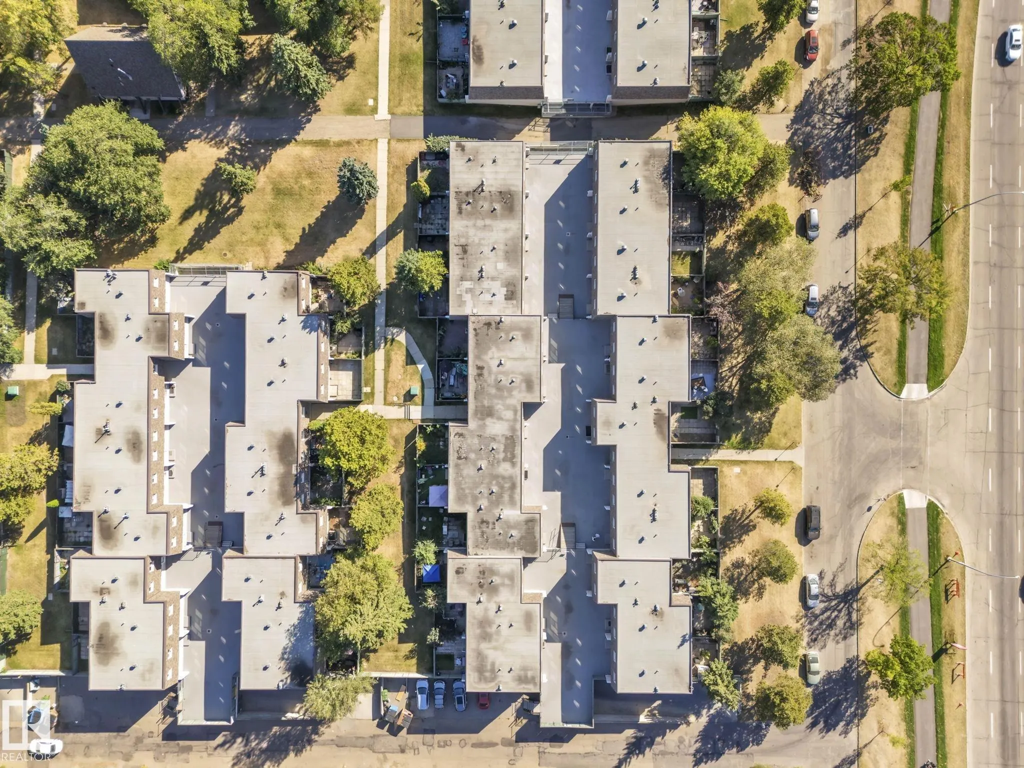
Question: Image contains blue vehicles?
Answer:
Yes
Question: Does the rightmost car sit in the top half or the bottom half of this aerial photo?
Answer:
top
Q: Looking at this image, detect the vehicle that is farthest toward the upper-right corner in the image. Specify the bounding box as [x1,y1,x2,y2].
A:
[1003,26,1024,63]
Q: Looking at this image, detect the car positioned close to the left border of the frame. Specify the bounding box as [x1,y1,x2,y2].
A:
[30,737,65,755]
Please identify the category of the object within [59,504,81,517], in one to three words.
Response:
gazebo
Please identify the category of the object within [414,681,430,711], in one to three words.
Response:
car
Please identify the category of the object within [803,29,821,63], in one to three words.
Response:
car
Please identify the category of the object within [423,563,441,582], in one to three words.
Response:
gazebo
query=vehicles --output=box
[414,681,430,711]
[804,0,821,27]
[452,681,468,712]
[803,29,821,63]
[804,284,821,316]
[804,574,821,607]
[1003,26,1024,63]
[804,505,823,539]
[804,208,822,242]
[477,693,490,711]
[431,681,446,708]
[30,737,65,755]
[804,650,822,684]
